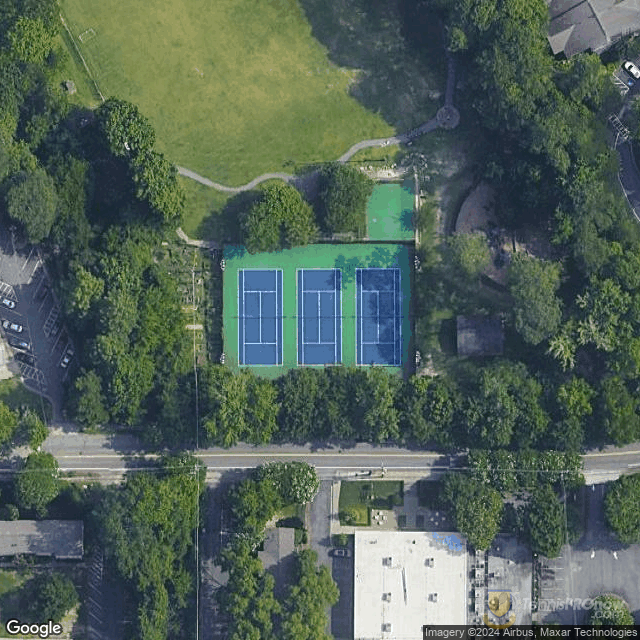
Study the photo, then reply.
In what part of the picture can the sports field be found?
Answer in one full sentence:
The sports field is in the top part of the image.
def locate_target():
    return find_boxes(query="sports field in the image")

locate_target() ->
[63,0,456,184]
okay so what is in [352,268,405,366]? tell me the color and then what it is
blue tennis court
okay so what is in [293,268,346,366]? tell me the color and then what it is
blue tennis court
